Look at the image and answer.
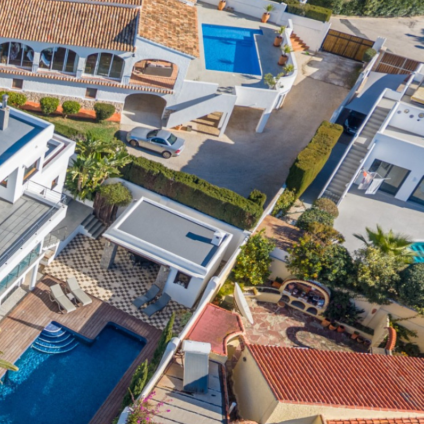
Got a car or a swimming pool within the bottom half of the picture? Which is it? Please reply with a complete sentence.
What appears within the bottom half of the picture is a swimming pool.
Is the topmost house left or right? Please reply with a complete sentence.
It is on the left.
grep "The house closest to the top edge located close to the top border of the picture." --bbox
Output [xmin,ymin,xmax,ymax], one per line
[0,0,203,118]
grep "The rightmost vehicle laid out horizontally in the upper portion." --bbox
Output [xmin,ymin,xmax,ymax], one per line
[129,132,185,159]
